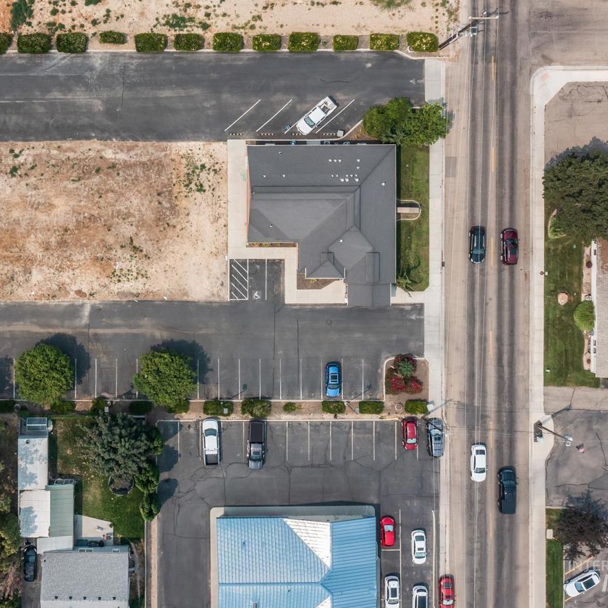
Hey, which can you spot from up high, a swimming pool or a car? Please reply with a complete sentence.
The image shows a car.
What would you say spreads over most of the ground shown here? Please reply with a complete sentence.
The scene is dominated by paved ground.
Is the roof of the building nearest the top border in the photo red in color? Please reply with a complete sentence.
No, the color of the roof of the building nearest the top border is gray.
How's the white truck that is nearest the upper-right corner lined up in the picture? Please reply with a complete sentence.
The white truck that is nearest the upper-right corner runs at an angle in the image.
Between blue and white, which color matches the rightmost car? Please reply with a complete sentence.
From above, the rightmost car appears white.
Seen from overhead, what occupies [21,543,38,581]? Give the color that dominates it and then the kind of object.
black car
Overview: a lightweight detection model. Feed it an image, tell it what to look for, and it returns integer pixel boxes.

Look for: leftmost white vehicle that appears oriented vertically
[203,417,220,465]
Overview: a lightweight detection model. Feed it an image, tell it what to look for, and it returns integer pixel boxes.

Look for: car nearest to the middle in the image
[325,362,342,398]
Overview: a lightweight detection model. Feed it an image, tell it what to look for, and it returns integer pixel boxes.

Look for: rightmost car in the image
[563,569,599,597]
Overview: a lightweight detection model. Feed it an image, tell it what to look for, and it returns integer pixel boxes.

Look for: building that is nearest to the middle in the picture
[246,144,398,306]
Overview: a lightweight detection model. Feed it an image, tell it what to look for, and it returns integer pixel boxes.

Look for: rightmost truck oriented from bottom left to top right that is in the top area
[297,94,340,134]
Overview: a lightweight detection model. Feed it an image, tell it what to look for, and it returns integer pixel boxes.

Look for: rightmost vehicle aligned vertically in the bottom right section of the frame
[497,465,518,513]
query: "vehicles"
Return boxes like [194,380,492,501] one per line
[21,543,38,581]
[297,94,340,134]
[411,583,427,608]
[563,569,599,597]
[425,416,442,454]
[248,419,266,467]
[438,574,457,608]
[497,465,518,513]
[384,573,402,608]
[410,527,427,563]
[499,228,520,264]
[470,443,488,481]
[203,417,220,465]
[467,227,486,263]
[401,417,418,449]
[325,362,342,398]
